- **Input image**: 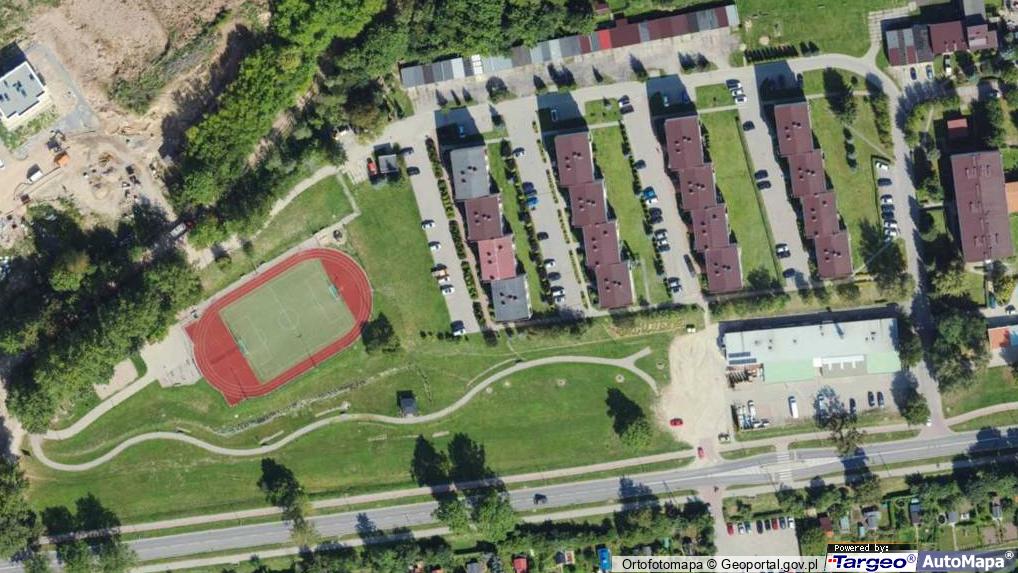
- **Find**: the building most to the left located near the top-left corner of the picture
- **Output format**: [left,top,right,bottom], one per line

[0,60,52,124]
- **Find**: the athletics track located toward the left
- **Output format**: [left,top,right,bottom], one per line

[184,247,374,408]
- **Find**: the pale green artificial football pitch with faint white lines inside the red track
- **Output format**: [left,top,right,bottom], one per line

[220,259,356,384]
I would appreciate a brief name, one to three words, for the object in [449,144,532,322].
building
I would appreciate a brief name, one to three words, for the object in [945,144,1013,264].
house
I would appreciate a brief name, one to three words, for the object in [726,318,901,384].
building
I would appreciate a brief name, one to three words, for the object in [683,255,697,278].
vehicle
